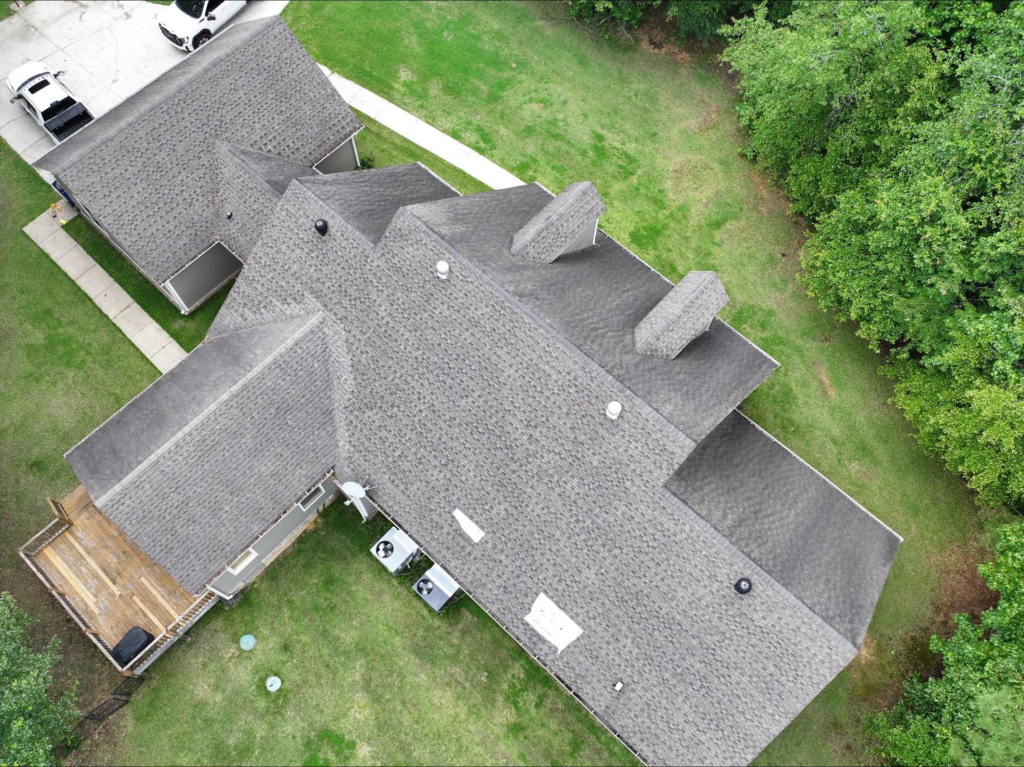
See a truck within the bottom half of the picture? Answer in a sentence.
No, no truck can be made out within the bottom half of the picture.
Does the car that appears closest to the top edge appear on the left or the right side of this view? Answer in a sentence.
The car that appears closest to the top edge sits on the left side.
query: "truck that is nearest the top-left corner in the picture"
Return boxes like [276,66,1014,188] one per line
[4,62,94,145]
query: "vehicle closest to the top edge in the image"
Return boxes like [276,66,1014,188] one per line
[157,0,260,50]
